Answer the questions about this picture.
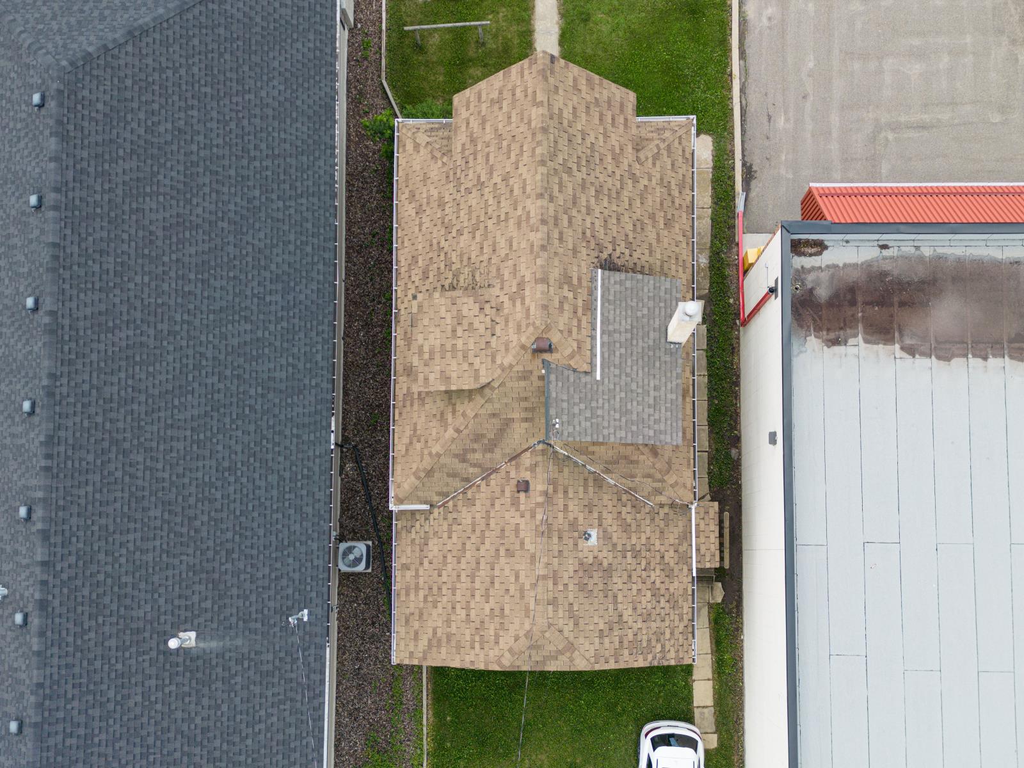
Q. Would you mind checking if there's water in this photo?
No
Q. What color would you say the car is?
white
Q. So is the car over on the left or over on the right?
right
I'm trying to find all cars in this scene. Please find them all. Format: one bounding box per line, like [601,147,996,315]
[638,720,705,768]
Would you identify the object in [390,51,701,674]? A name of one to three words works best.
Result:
house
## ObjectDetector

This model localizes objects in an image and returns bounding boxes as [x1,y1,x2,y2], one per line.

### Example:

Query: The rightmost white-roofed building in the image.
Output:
[733,185,1024,768]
